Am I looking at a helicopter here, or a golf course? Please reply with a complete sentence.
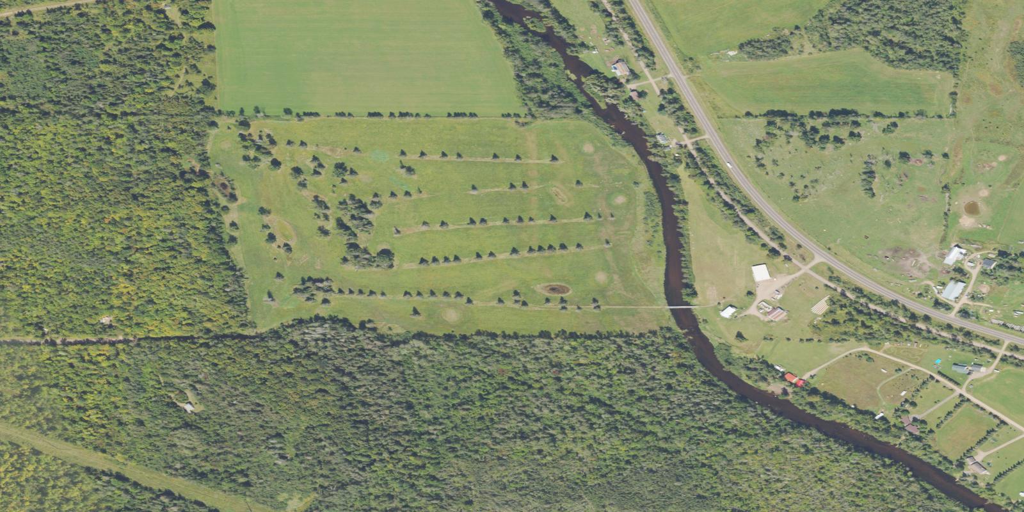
Of the two, only a golf course appears.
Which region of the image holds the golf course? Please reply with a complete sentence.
The golf course sits in the center section of the image.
